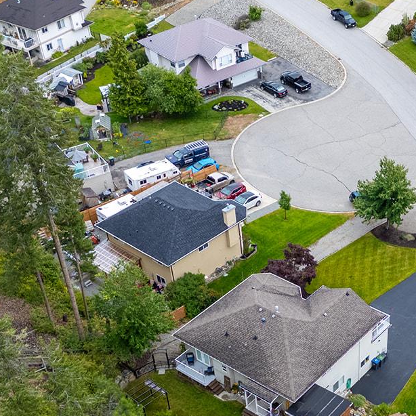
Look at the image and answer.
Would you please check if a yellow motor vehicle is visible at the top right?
No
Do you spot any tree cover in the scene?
Yes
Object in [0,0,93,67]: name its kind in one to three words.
house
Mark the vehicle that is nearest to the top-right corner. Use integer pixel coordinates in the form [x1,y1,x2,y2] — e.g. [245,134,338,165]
[327,4,357,28]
